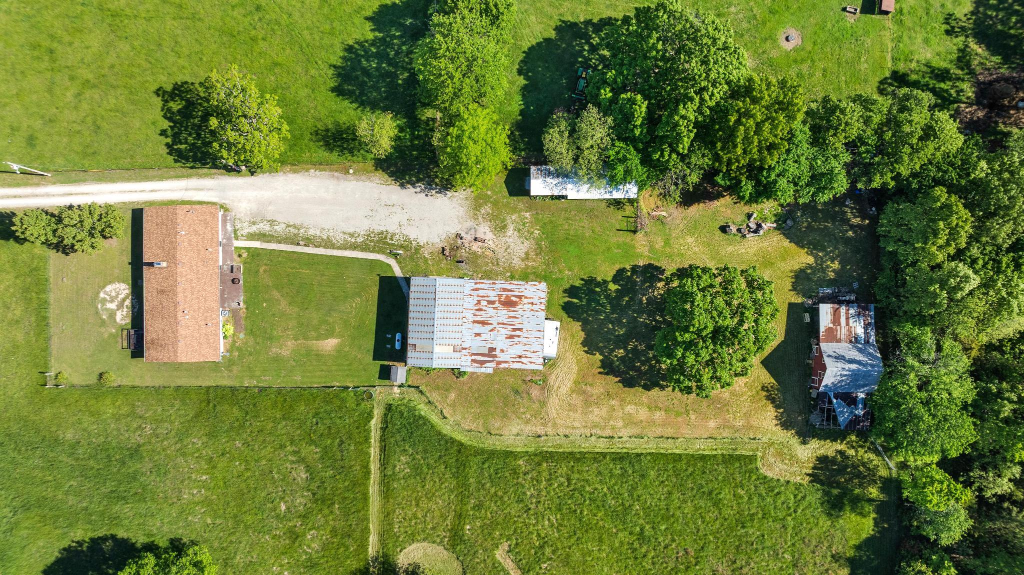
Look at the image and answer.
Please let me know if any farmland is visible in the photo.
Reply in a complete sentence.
Yes, farmland shows up in the scene.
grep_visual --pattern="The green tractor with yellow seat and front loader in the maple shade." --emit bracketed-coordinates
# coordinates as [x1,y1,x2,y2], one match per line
[572,67,592,103]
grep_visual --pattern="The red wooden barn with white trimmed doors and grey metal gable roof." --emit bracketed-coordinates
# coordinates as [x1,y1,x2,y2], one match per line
[812,304,883,430]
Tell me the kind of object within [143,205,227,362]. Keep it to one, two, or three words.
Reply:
house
